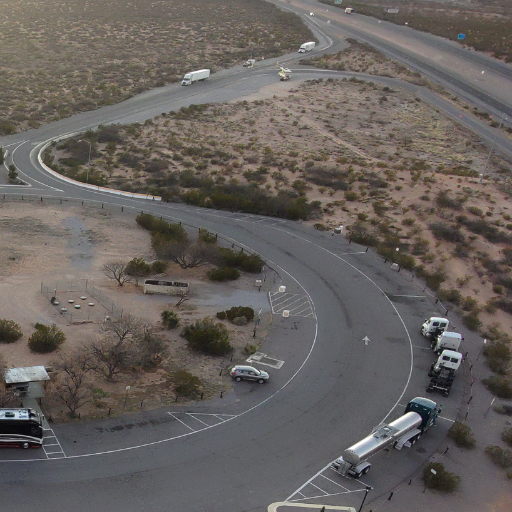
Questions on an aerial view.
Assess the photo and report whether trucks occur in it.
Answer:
Yes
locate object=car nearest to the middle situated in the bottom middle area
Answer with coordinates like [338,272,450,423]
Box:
[231,365,270,385]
